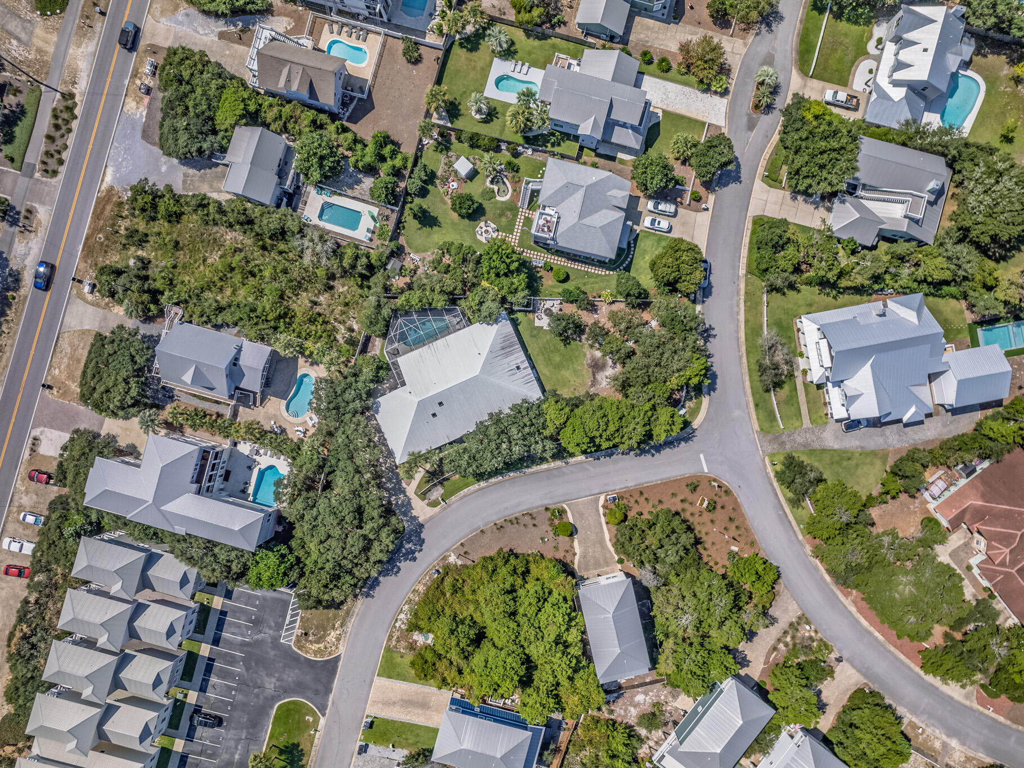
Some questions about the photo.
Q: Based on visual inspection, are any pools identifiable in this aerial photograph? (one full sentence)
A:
Yes, this view includes a pool.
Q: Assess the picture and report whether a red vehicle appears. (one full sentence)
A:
Yes, there is a red vehicle in the image.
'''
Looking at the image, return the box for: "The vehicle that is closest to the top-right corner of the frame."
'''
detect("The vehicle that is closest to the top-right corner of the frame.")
[824,90,860,109]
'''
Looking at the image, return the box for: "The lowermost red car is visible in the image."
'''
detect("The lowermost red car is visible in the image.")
[4,564,32,578]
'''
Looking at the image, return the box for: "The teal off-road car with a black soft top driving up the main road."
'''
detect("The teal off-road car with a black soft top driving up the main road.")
[118,21,138,49]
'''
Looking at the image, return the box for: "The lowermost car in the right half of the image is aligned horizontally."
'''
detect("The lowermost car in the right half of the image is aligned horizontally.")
[839,418,867,432]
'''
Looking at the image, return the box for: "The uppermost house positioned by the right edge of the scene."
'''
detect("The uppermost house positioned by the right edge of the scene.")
[860,4,974,130]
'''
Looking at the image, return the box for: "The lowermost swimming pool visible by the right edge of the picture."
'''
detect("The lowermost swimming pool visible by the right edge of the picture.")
[976,320,1024,352]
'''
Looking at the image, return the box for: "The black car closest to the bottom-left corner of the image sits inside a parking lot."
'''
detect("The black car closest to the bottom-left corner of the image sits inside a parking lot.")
[190,711,221,729]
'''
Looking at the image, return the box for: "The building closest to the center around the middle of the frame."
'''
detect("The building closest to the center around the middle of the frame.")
[373,316,544,465]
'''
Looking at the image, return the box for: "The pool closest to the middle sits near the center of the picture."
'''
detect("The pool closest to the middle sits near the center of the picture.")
[399,315,451,348]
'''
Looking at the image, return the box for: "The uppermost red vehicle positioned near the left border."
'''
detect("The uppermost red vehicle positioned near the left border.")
[28,469,58,486]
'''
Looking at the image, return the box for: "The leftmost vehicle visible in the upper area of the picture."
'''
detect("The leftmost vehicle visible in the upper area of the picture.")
[36,262,56,291]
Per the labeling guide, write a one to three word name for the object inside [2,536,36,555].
vehicle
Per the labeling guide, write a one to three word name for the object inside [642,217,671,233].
car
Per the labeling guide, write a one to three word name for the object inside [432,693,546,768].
house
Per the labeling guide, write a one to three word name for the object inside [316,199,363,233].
swimming pool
